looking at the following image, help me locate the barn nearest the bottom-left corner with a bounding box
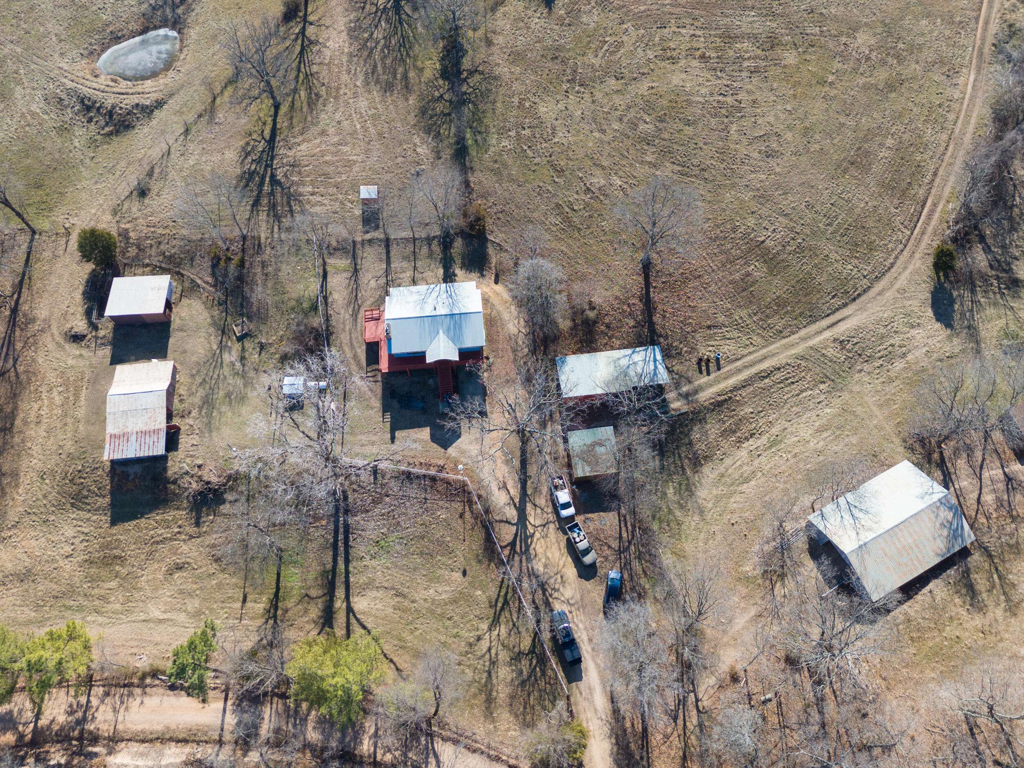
[104,361,188,463]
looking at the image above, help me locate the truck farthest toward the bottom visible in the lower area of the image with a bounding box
[555,610,585,665]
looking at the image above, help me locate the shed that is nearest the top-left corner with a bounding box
[105,275,175,323]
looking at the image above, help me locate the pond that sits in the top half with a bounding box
[97,29,182,85]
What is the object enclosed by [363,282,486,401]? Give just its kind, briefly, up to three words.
house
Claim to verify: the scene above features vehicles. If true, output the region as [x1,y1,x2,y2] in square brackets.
[549,474,576,520]
[555,610,585,665]
[565,522,596,568]
[599,570,621,612]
